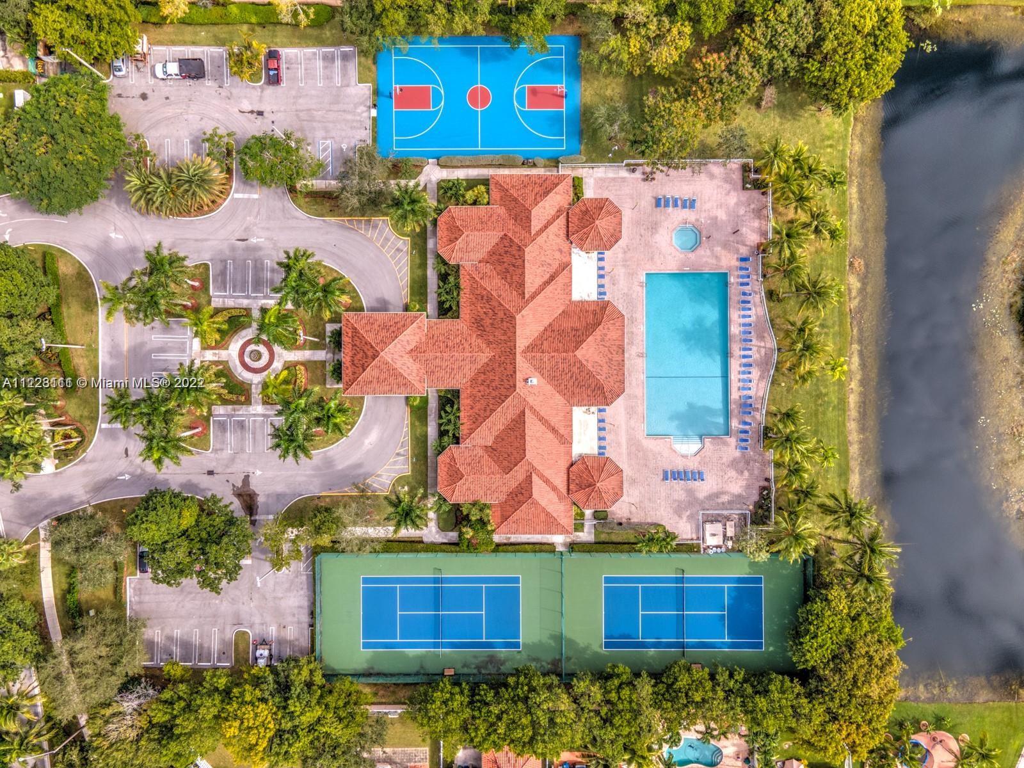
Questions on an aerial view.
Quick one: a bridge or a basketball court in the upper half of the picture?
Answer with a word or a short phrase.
basketball court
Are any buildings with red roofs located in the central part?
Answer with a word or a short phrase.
Yes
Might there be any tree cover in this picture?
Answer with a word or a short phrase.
Yes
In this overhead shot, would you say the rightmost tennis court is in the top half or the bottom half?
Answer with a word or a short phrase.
bottom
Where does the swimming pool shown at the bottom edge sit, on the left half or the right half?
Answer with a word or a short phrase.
right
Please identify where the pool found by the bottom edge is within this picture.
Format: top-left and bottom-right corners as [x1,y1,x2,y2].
[664,735,725,768]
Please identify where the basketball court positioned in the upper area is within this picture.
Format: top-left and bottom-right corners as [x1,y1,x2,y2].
[378,36,581,158]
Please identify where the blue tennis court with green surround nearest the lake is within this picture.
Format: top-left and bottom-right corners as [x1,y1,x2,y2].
[563,554,806,674]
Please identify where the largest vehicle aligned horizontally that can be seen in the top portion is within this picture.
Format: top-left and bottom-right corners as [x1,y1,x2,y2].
[153,56,203,78]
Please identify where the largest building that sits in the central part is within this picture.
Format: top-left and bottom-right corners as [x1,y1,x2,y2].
[341,173,625,536]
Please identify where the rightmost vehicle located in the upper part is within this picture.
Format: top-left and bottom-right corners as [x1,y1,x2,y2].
[264,48,281,84]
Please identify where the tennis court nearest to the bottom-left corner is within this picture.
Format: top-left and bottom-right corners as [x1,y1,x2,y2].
[318,554,563,674]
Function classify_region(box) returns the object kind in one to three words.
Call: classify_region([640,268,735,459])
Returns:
swimming pool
